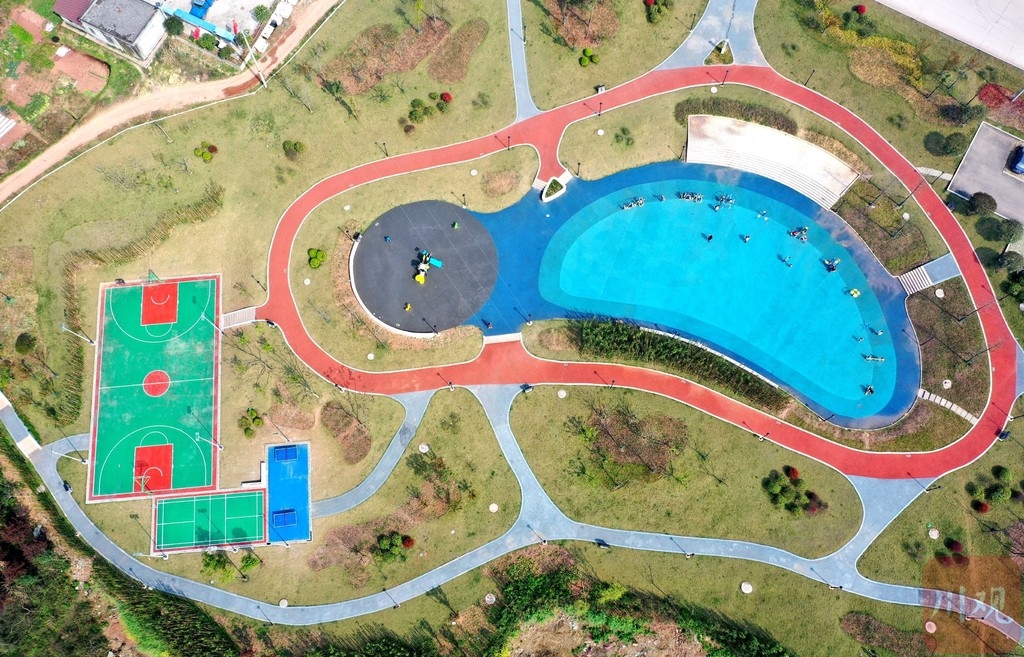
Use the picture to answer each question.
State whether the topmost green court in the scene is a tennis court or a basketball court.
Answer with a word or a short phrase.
basketball court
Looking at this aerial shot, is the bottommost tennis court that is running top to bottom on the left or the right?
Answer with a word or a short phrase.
left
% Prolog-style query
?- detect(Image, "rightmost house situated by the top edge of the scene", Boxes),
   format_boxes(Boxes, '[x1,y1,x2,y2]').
[79,0,165,56]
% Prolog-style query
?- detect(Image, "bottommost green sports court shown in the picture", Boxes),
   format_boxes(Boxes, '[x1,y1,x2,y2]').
[151,488,267,555]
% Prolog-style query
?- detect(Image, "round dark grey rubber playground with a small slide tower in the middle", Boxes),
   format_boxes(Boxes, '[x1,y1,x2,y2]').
[353,200,528,333]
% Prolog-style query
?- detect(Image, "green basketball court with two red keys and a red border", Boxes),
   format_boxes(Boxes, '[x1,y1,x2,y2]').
[86,273,221,503]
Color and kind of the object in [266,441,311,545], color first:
blue tennis court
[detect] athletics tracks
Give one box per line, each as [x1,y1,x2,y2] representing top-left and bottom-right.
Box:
[256,64,1017,479]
